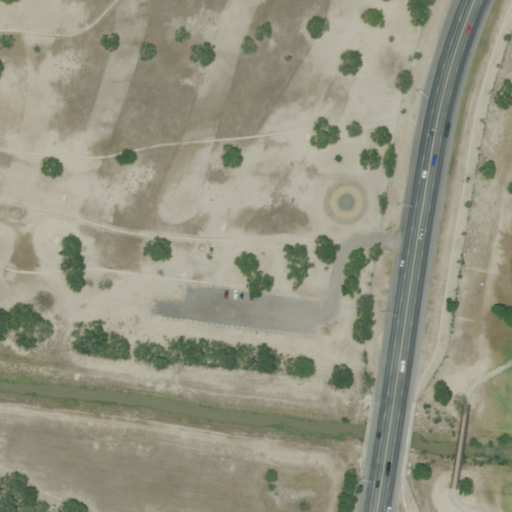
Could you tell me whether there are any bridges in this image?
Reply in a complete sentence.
Yes, a bridge is visible in the scene.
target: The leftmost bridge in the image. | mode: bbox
[358,396,420,474]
